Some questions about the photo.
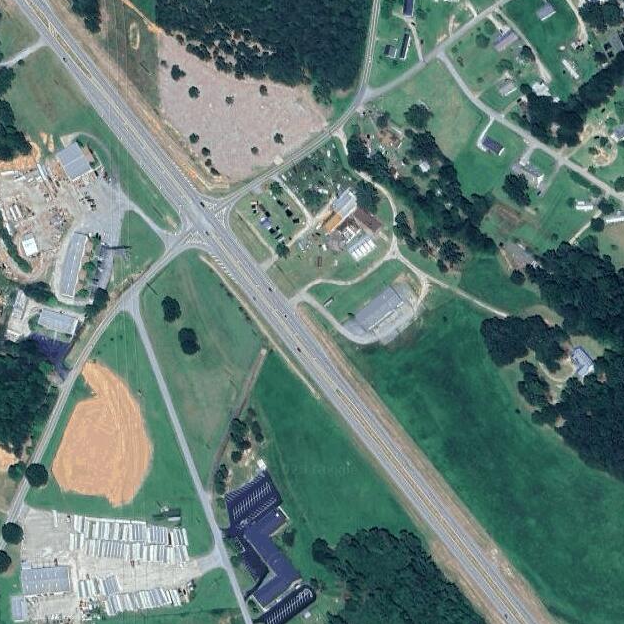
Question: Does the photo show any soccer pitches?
No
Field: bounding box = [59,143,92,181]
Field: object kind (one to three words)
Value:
building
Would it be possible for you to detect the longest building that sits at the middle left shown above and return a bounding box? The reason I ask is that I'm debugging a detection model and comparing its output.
[60,233,89,297]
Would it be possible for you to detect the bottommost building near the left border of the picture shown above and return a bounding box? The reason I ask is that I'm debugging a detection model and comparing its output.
[12,596,27,622]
